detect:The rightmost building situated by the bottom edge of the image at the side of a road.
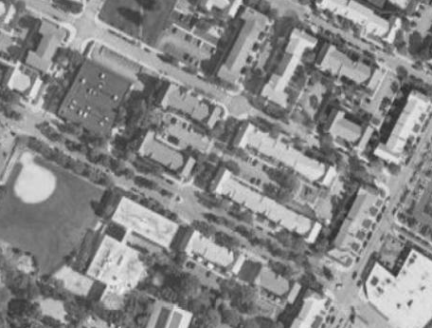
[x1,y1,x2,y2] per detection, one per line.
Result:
[366,249,432,328]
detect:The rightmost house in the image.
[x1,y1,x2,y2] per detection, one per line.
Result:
[415,7,432,34]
